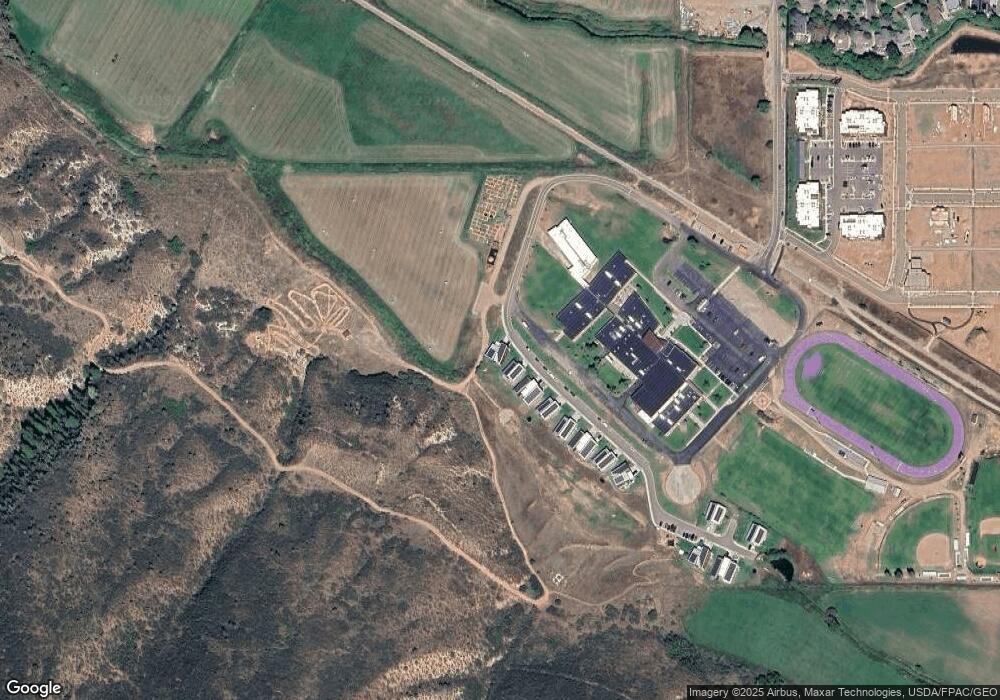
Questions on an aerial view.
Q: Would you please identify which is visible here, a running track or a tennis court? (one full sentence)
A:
I can see a running track in this picture.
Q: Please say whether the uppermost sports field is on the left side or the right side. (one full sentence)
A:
It is on the right.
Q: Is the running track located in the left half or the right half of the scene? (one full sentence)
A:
The running track is on the right side of the image.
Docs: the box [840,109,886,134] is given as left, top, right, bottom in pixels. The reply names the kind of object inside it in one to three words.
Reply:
building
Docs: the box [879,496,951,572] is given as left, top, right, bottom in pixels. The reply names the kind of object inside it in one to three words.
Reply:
baseball field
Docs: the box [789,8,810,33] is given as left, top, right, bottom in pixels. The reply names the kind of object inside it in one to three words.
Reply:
house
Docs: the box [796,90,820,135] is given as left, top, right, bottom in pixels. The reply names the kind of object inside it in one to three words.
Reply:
building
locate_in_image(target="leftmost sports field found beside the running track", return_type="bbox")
[719,421,869,556]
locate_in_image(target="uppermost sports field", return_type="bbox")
[796,343,953,465]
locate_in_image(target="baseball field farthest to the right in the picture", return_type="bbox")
[966,451,1000,572]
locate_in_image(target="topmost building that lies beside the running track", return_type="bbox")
[556,250,701,434]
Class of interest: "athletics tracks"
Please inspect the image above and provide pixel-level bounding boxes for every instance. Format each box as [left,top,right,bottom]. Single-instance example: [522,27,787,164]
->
[783,330,964,476]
